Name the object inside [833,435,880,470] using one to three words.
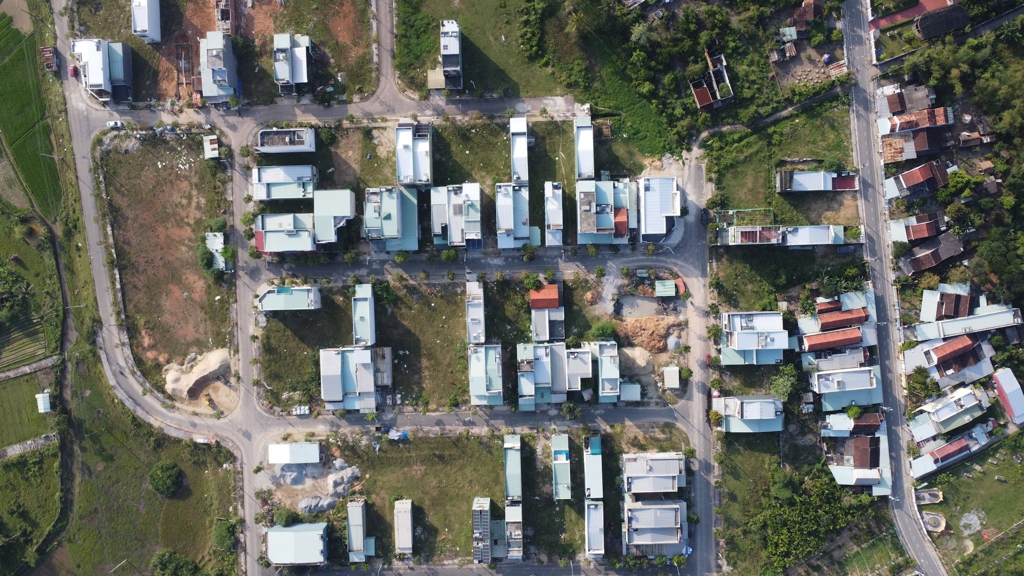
house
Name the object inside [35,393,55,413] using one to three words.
shed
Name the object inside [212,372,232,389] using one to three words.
vehicle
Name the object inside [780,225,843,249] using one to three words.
house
